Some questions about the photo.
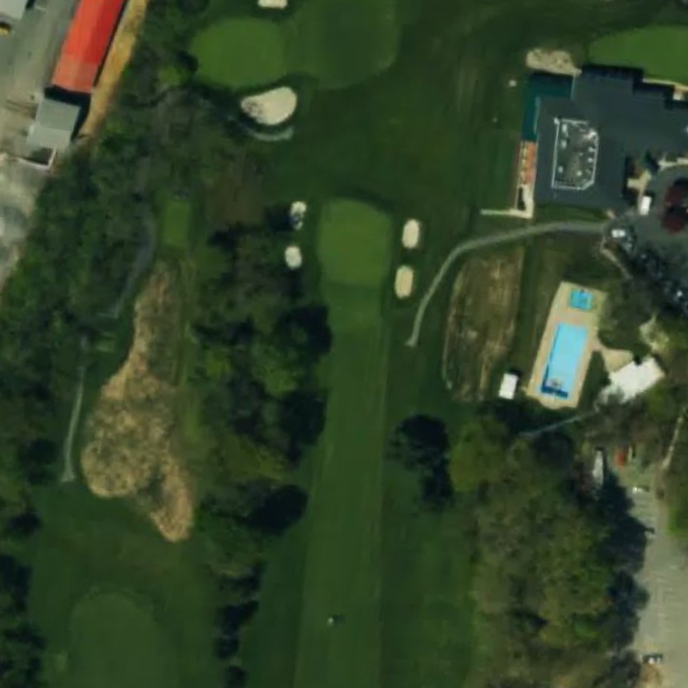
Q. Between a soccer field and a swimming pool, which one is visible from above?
swimming pool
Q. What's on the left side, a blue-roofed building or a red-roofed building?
red-roofed building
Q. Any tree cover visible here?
Yes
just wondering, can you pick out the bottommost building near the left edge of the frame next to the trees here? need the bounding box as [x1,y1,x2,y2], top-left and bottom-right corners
[23,99,79,150]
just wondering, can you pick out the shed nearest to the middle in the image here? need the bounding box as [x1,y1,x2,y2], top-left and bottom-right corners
[500,373,519,399]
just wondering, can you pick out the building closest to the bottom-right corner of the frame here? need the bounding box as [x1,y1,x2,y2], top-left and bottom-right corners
[604,356,665,403]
